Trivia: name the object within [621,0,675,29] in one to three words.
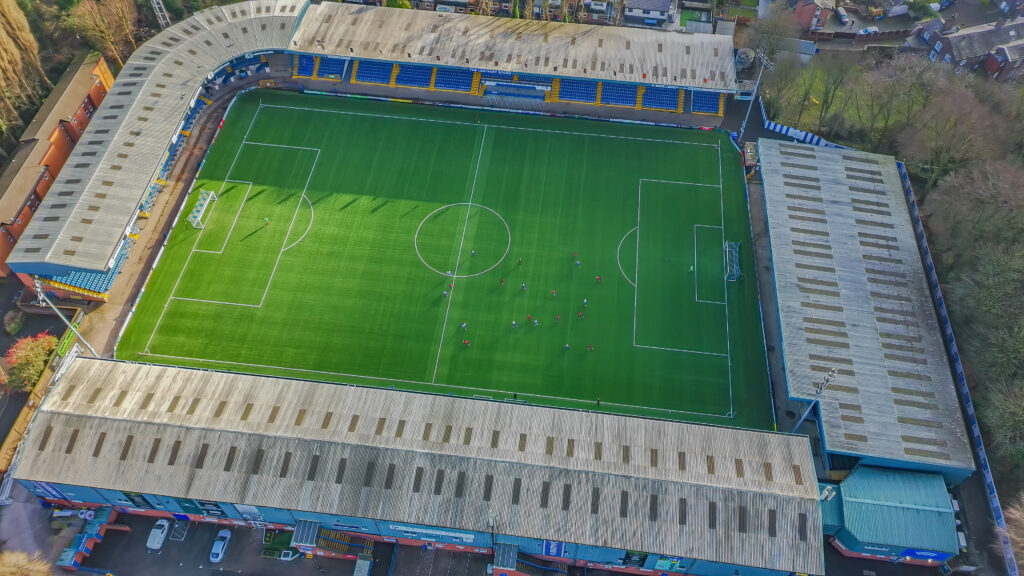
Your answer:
house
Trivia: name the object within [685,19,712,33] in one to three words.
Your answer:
shed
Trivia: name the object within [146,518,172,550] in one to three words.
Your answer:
vehicle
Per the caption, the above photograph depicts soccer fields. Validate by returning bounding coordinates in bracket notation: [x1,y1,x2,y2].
[116,89,775,430]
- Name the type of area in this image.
sports ground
